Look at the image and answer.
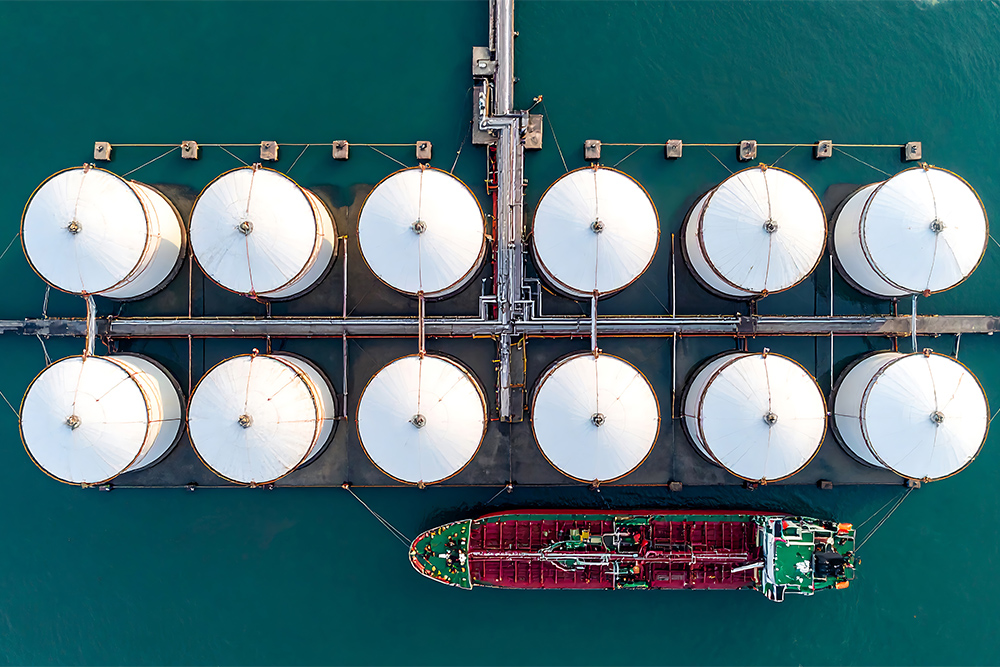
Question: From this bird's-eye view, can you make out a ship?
Yes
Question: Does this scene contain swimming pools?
No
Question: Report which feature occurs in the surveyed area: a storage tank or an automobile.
storage tank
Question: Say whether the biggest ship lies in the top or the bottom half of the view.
bottom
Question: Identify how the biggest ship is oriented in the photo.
from left to right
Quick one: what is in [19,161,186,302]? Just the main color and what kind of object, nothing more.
white storage tank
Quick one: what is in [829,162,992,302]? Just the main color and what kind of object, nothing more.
white storage tank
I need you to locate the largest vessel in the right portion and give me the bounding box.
[408,509,857,601]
